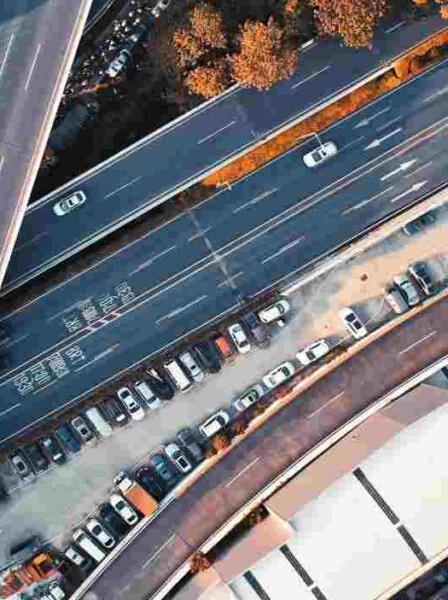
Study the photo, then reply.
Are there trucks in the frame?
Yes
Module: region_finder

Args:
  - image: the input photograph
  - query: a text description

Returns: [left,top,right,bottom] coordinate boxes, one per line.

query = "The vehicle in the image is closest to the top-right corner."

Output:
[302,140,338,167]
